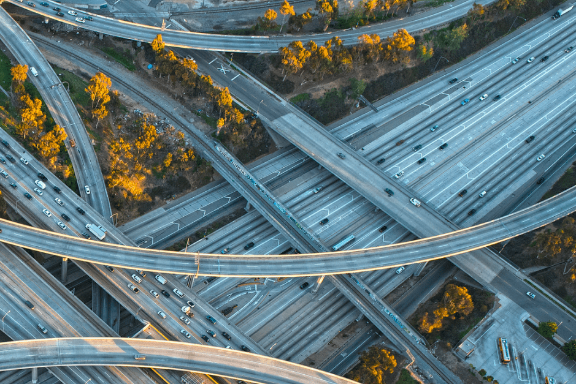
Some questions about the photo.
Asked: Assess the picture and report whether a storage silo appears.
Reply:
No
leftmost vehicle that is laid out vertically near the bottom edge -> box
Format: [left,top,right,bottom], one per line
[498,338,510,367]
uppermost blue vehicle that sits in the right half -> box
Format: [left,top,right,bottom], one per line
[555,3,571,16]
